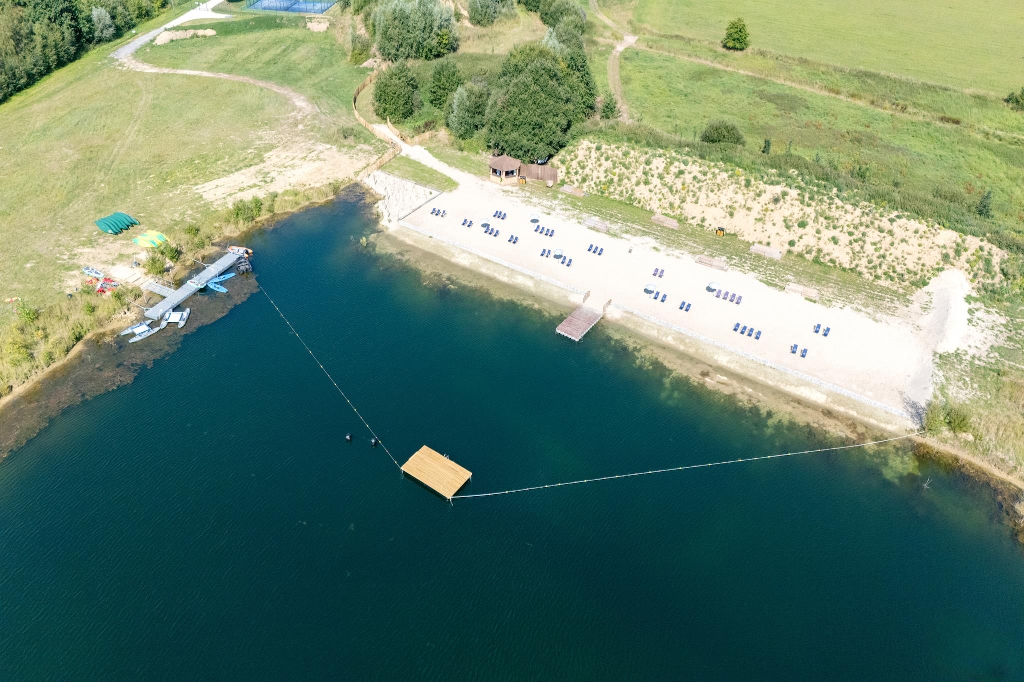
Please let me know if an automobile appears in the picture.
No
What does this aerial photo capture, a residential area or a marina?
marina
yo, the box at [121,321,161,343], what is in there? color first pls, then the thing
white boat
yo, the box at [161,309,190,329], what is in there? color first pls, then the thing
white boat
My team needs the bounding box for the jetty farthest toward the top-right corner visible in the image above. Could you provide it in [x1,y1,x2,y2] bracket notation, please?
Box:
[555,306,602,345]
